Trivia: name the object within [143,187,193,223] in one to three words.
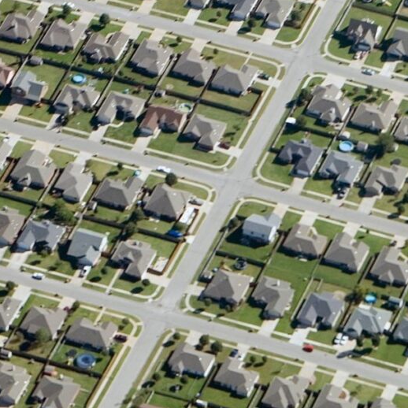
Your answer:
house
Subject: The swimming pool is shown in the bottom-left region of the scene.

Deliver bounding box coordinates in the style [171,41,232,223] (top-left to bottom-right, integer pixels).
[75,353,96,369]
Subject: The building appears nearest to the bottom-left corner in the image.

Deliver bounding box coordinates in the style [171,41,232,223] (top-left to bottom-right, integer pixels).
[0,365,37,408]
